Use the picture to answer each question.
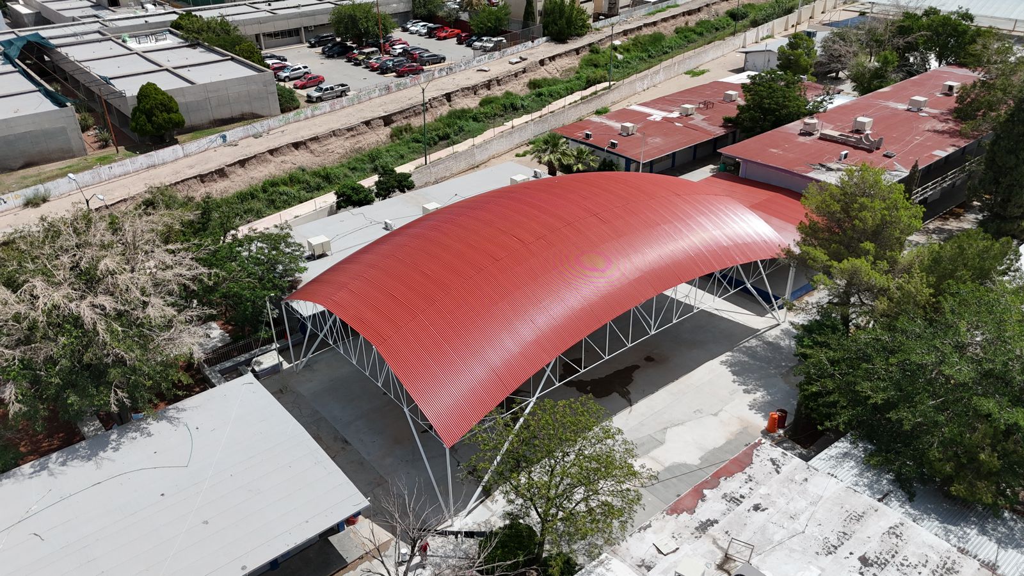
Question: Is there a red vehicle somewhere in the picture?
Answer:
Yes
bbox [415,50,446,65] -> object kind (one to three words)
car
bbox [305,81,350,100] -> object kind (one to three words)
vehicle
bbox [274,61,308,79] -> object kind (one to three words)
car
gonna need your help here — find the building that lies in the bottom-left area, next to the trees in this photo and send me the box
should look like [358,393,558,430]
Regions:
[0,373,374,576]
